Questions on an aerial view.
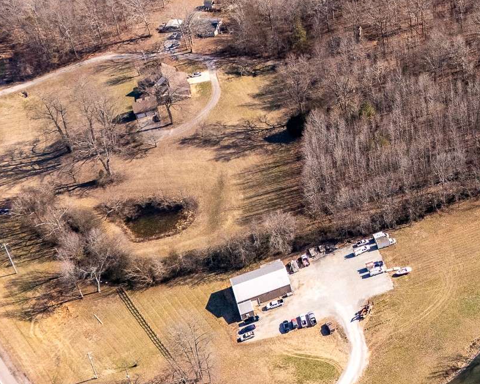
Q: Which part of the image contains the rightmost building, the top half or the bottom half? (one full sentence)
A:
The bottom half of the photo is where the rightmost building is.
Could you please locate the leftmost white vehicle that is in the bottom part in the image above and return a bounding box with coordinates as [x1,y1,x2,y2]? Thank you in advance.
[236,329,257,343]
